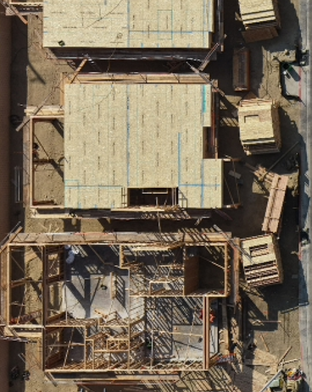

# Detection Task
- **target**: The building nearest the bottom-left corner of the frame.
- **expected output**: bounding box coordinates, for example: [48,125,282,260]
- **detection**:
[7,239,241,371]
